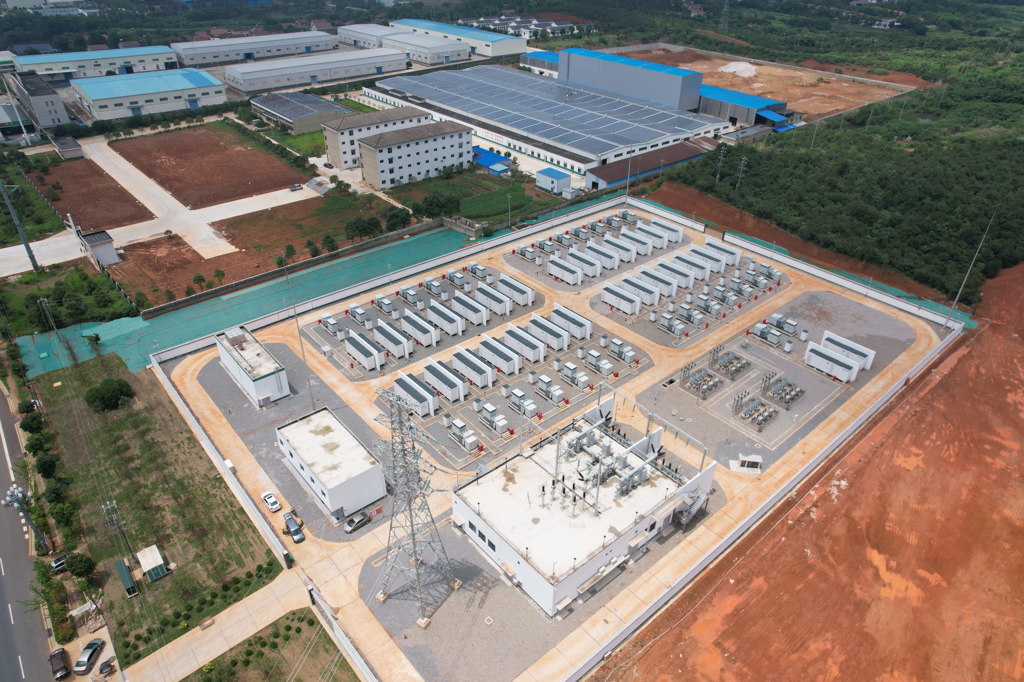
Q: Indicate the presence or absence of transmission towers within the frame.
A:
Yes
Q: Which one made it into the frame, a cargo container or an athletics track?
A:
cargo container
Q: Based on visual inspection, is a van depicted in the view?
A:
Yes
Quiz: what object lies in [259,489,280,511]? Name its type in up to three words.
car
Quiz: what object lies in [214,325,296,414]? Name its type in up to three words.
building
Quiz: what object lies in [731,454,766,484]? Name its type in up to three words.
shed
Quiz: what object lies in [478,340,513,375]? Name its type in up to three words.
shipping container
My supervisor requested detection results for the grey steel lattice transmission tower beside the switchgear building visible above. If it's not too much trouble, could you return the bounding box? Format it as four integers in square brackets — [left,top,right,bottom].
[368,390,462,618]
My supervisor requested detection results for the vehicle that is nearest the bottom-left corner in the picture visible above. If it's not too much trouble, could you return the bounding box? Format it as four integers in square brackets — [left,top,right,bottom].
[45,645,71,680]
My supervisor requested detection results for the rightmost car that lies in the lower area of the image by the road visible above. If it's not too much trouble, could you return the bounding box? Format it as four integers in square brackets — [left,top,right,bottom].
[341,514,372,534]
